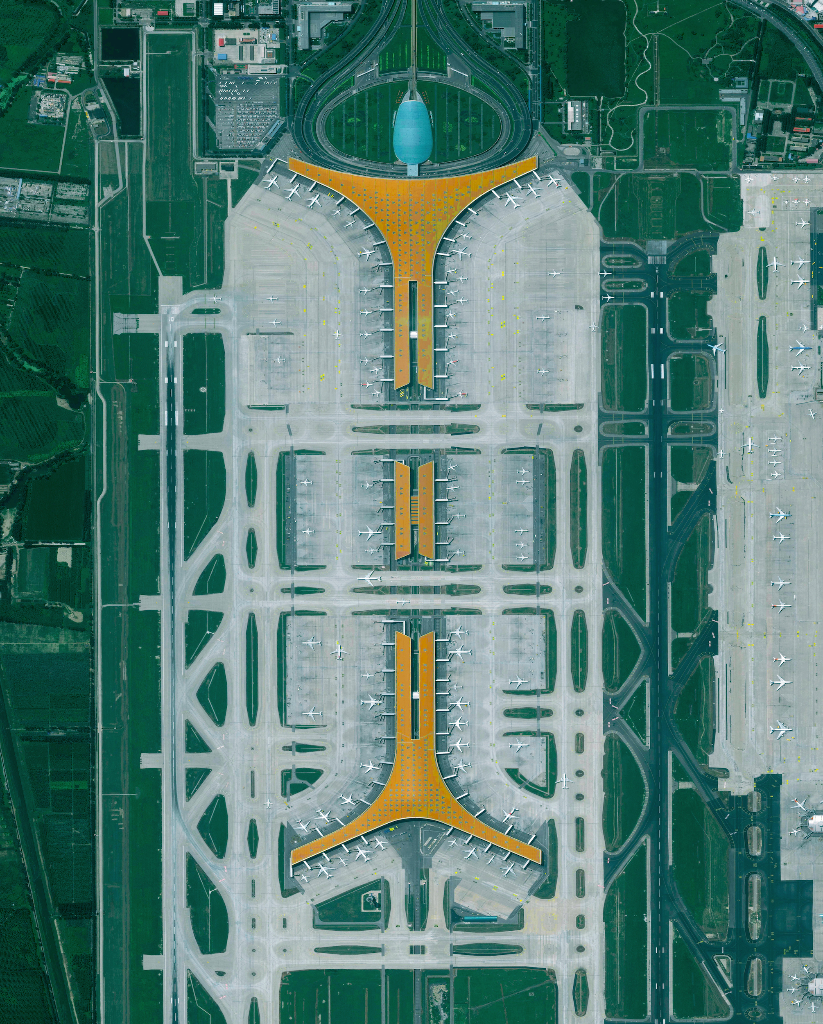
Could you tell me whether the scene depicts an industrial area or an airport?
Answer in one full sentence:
The area seen from above is an airport.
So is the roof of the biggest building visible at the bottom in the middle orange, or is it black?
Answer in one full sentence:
The roof of the biggest building visible at the bottom in the middle looks orange in the image.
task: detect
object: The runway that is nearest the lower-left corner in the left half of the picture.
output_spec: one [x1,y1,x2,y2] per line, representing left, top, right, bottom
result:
[161,305,185,1024]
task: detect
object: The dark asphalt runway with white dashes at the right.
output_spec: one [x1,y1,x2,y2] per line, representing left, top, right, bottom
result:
[649,255,669,1024]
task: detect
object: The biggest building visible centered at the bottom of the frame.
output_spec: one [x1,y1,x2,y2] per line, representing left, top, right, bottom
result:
[290,631,542,866]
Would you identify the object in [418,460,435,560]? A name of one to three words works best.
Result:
building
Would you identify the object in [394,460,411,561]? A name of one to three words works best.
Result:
building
